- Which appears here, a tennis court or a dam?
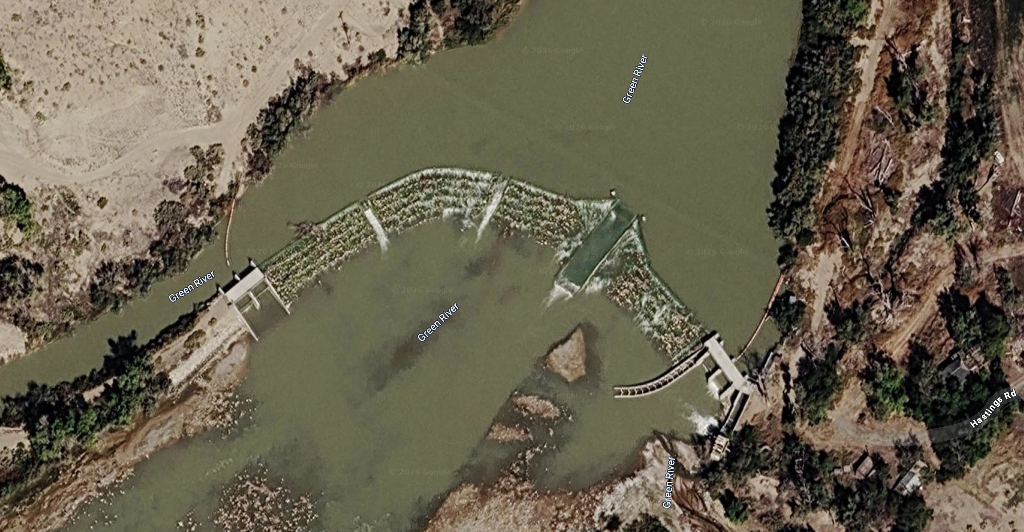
dam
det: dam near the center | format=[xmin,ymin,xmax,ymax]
[258,165,706,363]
